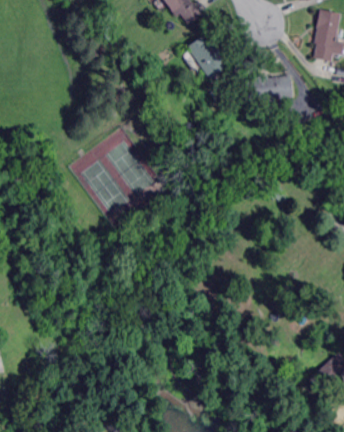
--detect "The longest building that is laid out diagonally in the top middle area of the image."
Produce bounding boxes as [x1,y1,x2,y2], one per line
[189,38,222,76]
